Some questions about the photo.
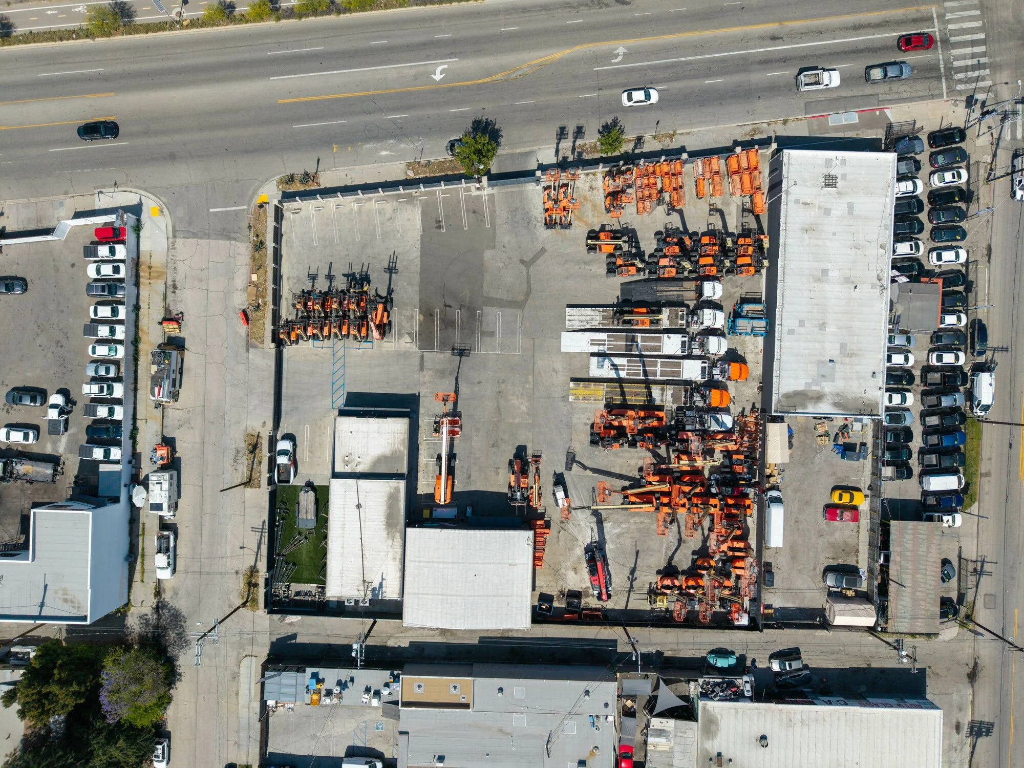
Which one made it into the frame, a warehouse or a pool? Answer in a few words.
warehouse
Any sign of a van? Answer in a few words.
Yes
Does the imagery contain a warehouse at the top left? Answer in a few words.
No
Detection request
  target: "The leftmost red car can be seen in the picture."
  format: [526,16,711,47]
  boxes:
[89,223,122,242]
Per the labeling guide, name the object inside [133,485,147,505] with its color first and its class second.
white umbrella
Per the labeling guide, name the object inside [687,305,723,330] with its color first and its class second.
white truck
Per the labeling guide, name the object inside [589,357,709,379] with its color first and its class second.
white trailer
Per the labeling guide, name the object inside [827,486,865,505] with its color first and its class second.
yellow car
